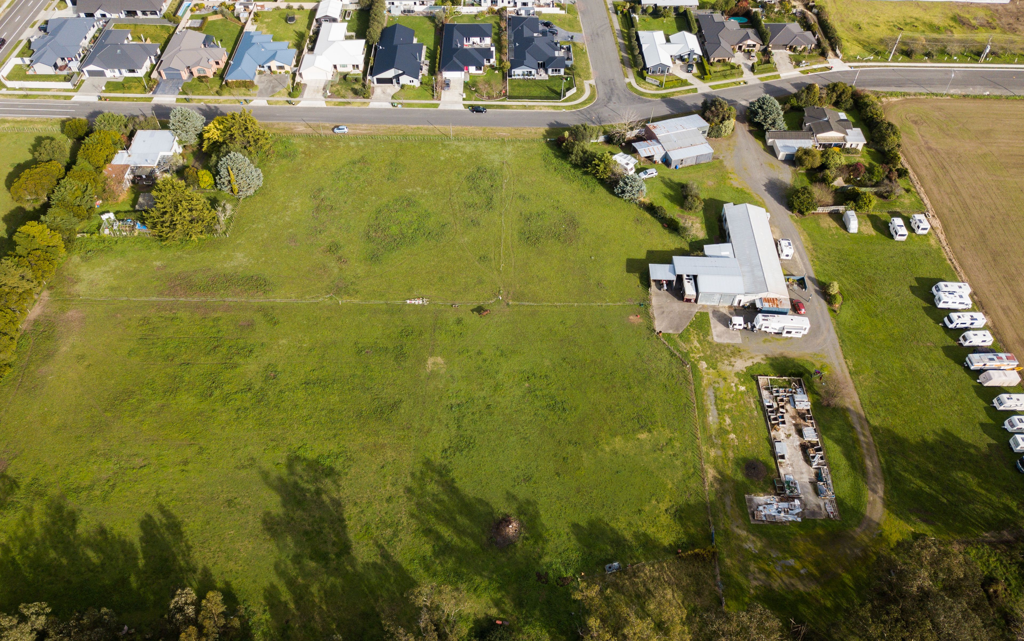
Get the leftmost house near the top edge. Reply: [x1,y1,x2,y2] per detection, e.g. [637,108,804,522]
[30,18,97,74]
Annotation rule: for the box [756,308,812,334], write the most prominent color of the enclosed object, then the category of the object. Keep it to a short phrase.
white vehicle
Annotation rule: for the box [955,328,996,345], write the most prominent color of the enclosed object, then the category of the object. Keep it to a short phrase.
white camper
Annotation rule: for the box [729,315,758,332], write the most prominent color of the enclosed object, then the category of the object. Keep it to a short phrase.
white vehicle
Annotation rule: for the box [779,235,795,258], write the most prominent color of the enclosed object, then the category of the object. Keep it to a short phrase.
white camper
